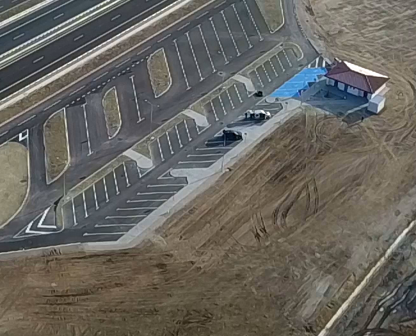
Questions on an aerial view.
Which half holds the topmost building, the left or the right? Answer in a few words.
right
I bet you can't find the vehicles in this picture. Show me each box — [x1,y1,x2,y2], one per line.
[222,132,243,142]
[245,108,272,122]
[253,89,267,97]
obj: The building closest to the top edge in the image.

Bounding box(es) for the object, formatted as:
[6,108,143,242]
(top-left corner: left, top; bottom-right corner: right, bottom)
[325,61,391,100]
